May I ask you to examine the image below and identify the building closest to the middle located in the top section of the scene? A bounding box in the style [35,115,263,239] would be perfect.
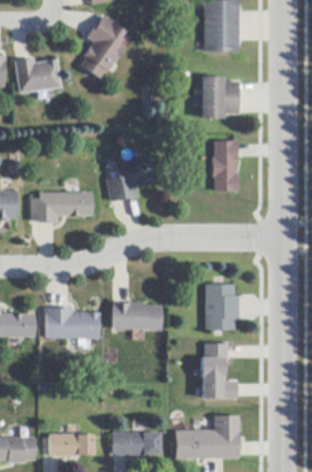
[106,163,140,200]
